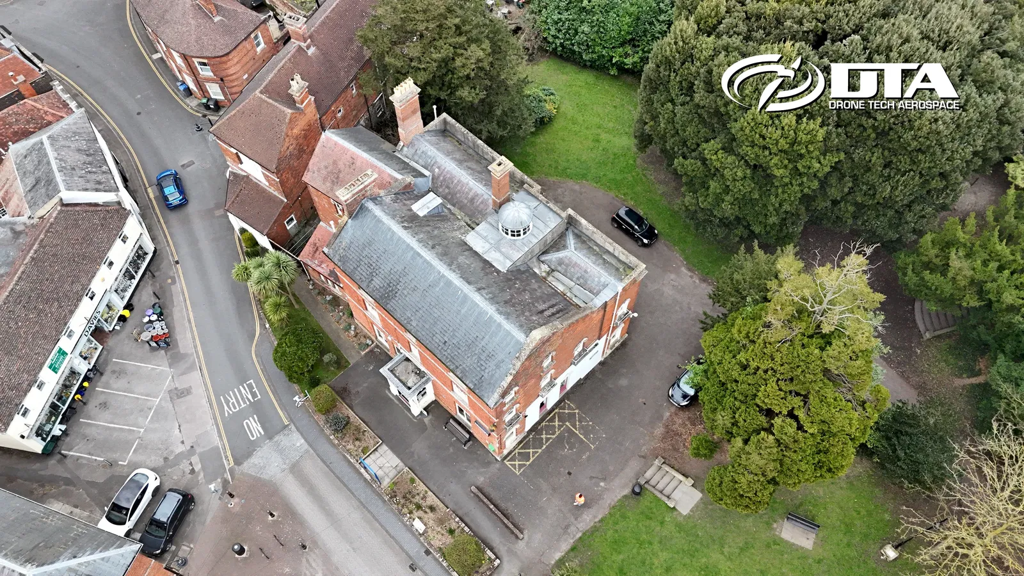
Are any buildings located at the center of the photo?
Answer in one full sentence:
Yes, there is a building at the center of the photo.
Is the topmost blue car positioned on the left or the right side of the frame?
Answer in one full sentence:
You can find the topmost blue car on the left side of the picture.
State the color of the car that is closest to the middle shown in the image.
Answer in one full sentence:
The color of the car that is closest to the middle is black.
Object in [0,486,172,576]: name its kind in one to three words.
house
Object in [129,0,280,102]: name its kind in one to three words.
house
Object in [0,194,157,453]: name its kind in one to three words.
building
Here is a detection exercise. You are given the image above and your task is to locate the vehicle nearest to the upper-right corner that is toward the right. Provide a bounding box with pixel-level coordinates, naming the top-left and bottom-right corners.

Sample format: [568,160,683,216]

[608,205,656,245]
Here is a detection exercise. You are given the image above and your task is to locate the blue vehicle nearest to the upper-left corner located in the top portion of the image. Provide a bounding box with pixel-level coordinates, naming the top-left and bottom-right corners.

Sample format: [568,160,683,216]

[154,171,188,213]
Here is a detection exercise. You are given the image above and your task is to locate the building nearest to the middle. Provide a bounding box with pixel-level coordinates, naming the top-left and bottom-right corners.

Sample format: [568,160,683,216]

[298,76,648,463]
